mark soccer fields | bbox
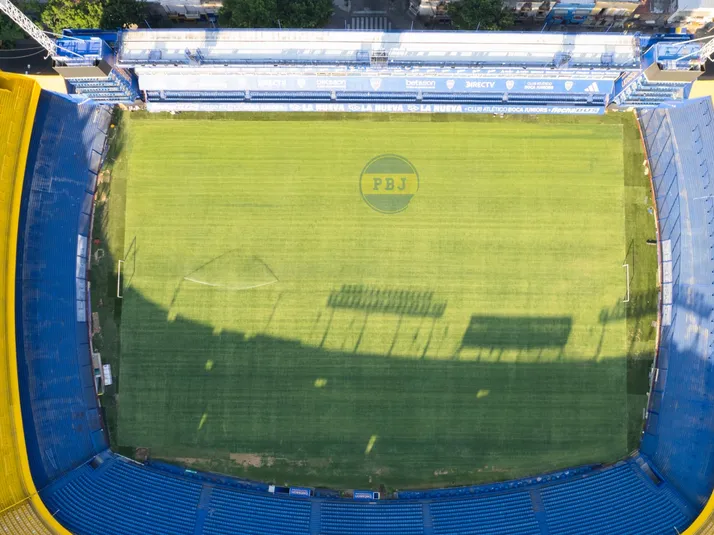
[91,105,658,488]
